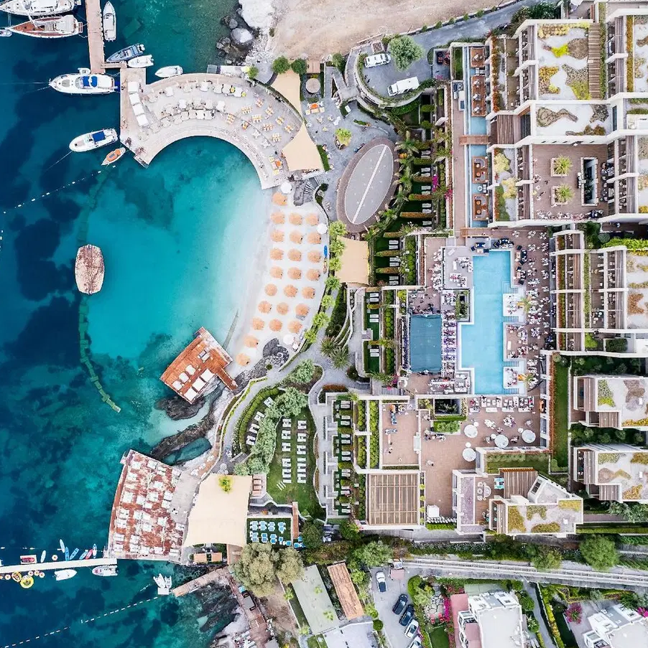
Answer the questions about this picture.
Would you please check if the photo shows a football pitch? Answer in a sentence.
No, the picture doesn't show any football pitch.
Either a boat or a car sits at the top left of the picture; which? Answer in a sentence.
What appears at the top left of the picture is a boat.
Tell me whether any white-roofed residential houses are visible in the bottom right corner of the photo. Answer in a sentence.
Yes, a white-roofed residential house is visible in the bottom right corner of the photo.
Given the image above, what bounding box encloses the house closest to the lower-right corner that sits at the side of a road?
[578,594,648,648]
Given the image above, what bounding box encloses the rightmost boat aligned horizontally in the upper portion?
[156,65,183,77]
